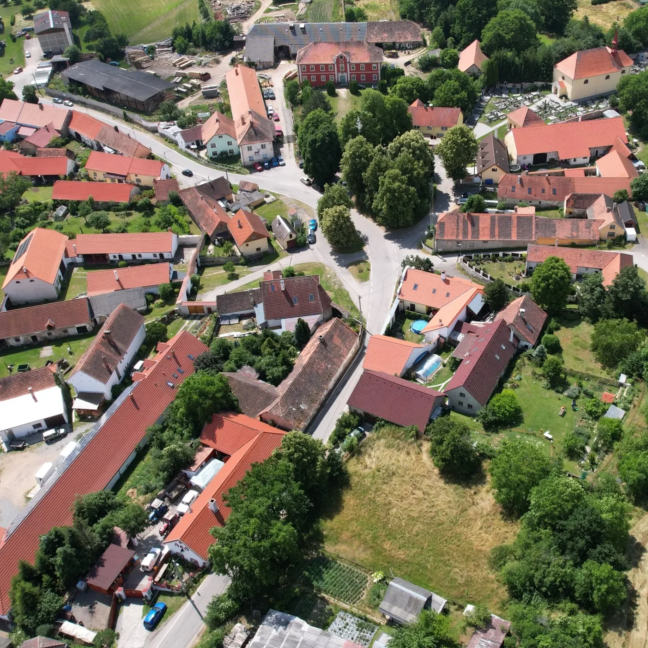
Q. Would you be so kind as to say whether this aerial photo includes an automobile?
Yes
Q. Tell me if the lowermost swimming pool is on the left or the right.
right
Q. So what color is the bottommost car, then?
blue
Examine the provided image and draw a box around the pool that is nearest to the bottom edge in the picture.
[417,356,449,380]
